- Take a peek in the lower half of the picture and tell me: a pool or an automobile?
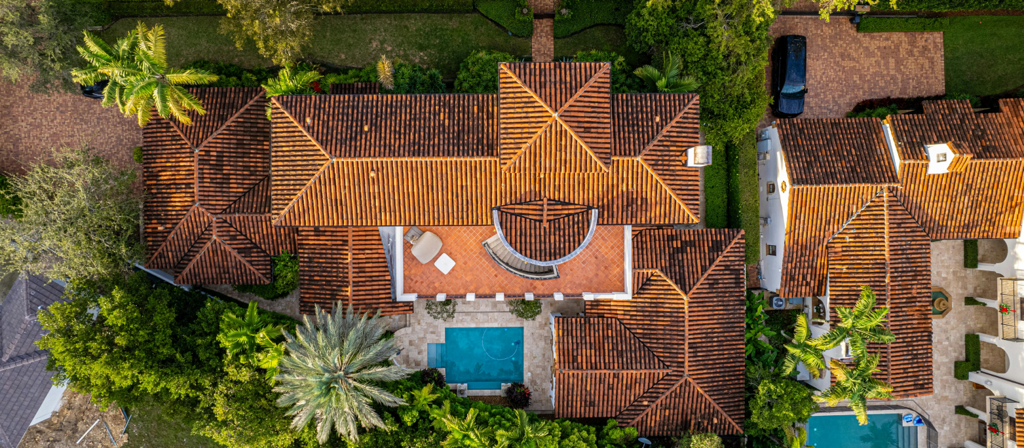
pool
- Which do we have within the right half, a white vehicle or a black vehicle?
black vehicle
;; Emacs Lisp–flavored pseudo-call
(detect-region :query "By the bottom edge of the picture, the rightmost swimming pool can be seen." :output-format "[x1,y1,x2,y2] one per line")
[799,404,919,448]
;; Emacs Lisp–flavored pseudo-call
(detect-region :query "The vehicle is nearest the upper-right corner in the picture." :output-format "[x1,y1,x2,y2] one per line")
[770,37,813,118]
